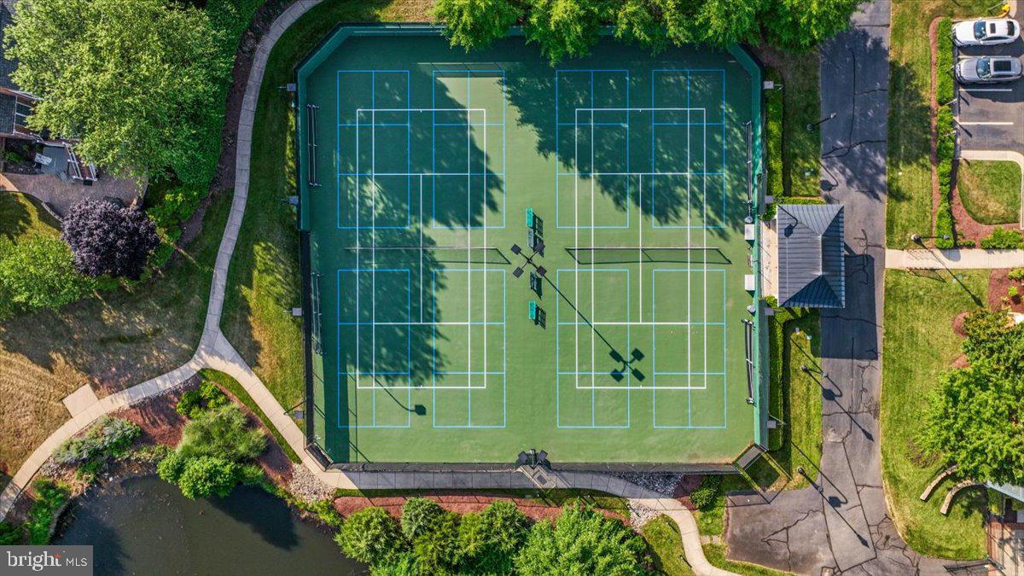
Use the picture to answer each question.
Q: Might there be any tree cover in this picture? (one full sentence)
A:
Yes, tree cover shows up in the scene.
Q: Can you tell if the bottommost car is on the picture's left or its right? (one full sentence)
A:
You can find the bottommost car on the right side of the picture.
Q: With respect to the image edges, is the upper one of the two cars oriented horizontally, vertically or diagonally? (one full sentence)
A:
Seen from above, the upper one of the two cars lies horizontally.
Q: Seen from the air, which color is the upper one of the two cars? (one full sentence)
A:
From above, the upper one of the two cars appears white.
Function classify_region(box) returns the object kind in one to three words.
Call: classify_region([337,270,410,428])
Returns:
sports court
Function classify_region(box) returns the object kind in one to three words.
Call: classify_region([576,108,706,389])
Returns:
tennis court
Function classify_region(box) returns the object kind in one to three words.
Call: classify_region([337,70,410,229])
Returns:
sports court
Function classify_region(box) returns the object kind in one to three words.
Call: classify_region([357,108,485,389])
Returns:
tennis court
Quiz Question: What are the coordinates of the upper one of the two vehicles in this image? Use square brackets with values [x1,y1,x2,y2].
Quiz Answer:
[953,17,1020,46]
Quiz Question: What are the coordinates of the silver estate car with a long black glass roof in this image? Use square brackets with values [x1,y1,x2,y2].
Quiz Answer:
[955,54,1024,84]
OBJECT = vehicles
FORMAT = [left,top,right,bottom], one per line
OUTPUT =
[955,54,1024,84]
[953,17,1020,46]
